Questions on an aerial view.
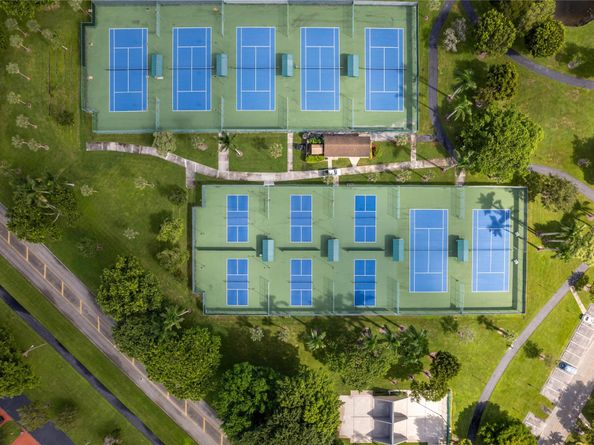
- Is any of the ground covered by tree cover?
Yes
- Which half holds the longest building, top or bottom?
top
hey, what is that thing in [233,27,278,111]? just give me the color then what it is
blue tennis court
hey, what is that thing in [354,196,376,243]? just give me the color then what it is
blue sports court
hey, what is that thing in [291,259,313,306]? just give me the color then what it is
blue sports court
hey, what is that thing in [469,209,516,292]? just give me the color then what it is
blue tennis court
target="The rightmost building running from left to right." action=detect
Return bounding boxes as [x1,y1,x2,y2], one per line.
[324,136,372,160]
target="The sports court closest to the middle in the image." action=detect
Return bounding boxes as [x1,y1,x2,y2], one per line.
[291,196,312,243]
